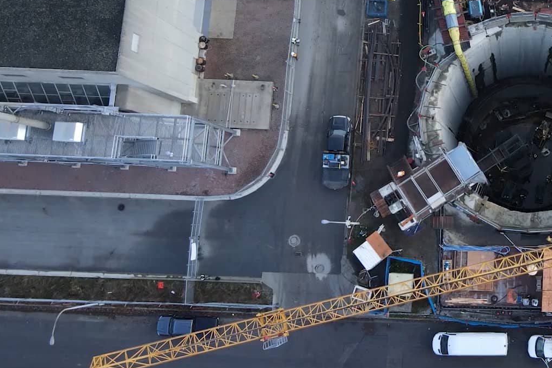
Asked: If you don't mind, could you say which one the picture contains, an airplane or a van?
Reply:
van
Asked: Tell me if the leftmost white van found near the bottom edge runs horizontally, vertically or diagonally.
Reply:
horizontally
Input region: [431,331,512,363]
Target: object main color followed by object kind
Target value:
white van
